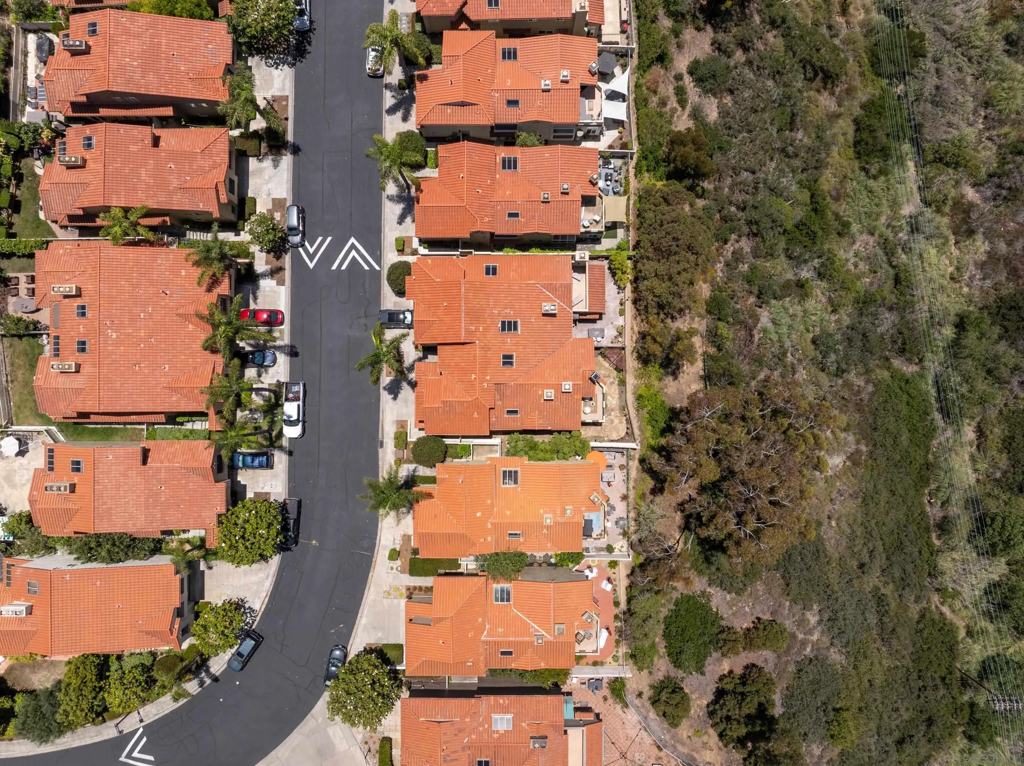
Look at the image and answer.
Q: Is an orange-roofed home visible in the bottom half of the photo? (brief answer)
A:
Yes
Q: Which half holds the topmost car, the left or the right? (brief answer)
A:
left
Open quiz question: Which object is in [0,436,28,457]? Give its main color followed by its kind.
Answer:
white umbrella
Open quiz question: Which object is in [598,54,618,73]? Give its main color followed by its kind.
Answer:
gray umbrella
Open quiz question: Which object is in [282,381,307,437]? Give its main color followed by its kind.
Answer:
white truck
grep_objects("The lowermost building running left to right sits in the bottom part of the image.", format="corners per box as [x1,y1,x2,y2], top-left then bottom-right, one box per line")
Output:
[400,674,603,766]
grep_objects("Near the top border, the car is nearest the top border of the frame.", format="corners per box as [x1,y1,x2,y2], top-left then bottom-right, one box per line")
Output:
[293,0,314,34]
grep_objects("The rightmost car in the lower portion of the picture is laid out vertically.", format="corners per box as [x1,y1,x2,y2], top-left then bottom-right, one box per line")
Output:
[323,639,348,686]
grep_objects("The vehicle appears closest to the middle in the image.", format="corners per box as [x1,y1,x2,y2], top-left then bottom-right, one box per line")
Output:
[375,308,414,330]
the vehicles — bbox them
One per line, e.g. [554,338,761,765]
[293,0,314,34]
[286,204,307,249]
[236,349,279,369]
[323,639,348,686]
[229,628,262,674]
[282,381,307,437]
[233,451,275,471]
[241,307,286,327]
[364,37,385,82]
[280,496,302,549]
[375,308,414,330]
